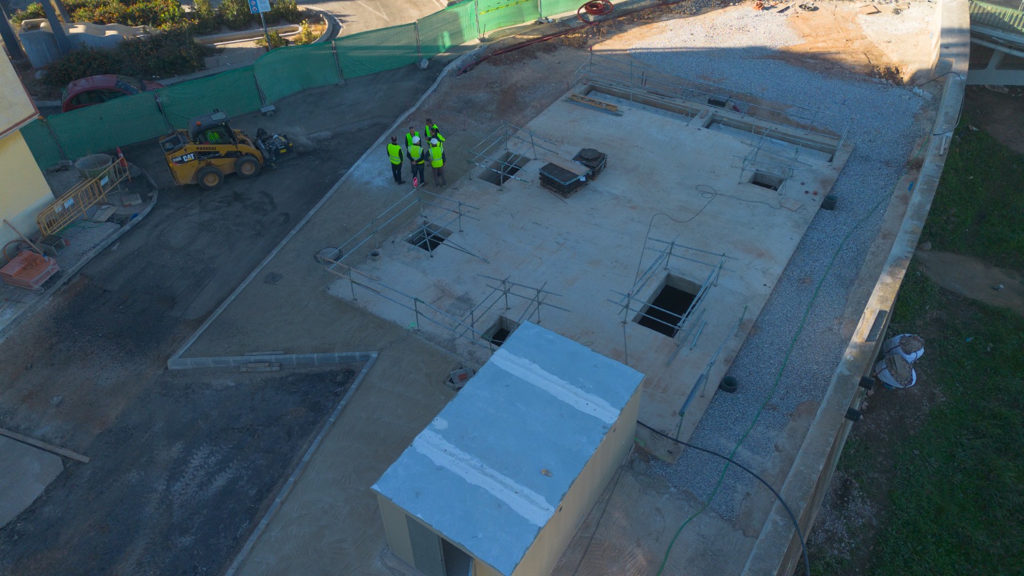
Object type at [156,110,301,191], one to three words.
work vehicle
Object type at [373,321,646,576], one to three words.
shed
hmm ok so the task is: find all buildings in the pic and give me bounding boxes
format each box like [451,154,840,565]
[373,321,646,576]
[0,46,54,263]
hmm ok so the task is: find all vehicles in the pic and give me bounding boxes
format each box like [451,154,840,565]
[57,73,171,114]
[156,110,301,191]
